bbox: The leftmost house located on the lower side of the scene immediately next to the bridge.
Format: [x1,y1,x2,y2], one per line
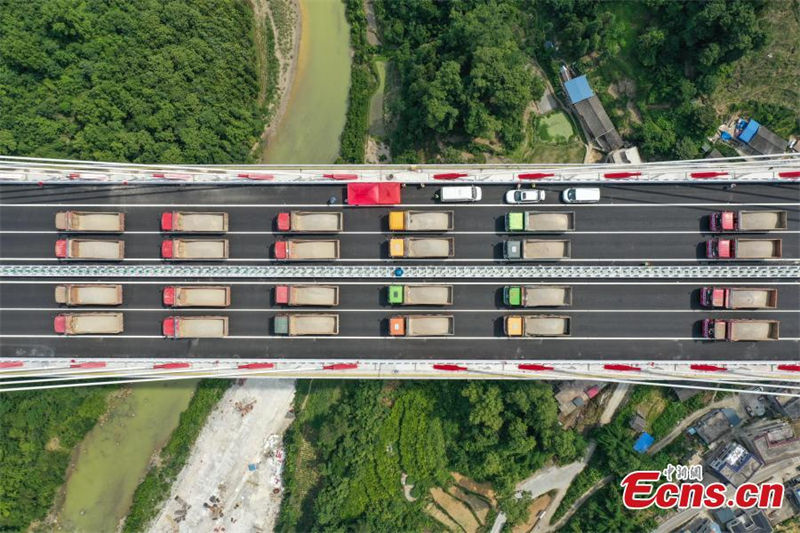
[553,384,598,417]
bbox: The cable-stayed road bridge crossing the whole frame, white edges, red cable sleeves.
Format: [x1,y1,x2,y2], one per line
[0,156,800,396]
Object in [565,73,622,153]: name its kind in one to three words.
shed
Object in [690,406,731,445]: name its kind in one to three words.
house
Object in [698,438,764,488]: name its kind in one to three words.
house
